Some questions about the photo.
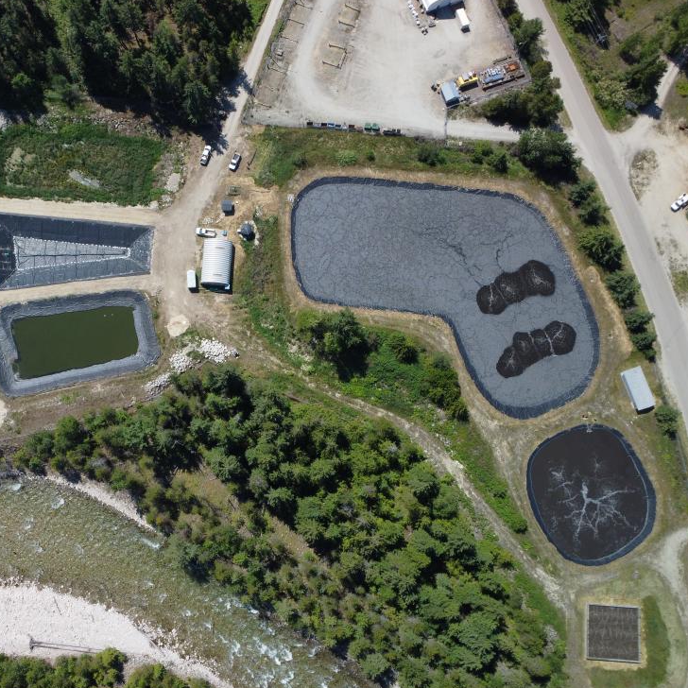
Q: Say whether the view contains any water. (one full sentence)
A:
Yes, some water is visible.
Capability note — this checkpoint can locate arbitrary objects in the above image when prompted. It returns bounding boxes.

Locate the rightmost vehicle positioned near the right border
[670,191,688,209]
